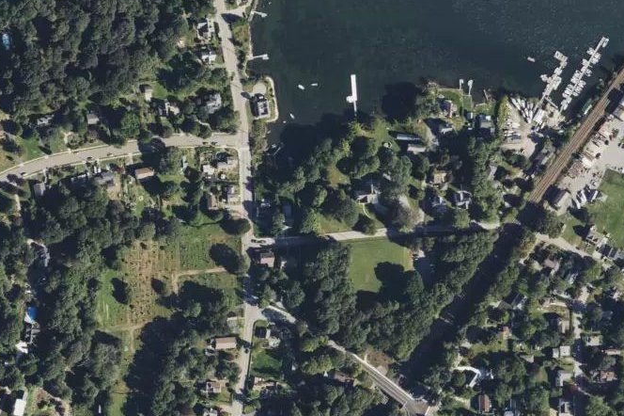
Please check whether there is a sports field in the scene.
Yes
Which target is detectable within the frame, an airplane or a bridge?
bridge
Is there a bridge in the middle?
No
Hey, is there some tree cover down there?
Yes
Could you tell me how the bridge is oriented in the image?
diagonally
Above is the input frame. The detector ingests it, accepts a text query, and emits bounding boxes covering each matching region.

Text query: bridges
[369,366,419,406]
